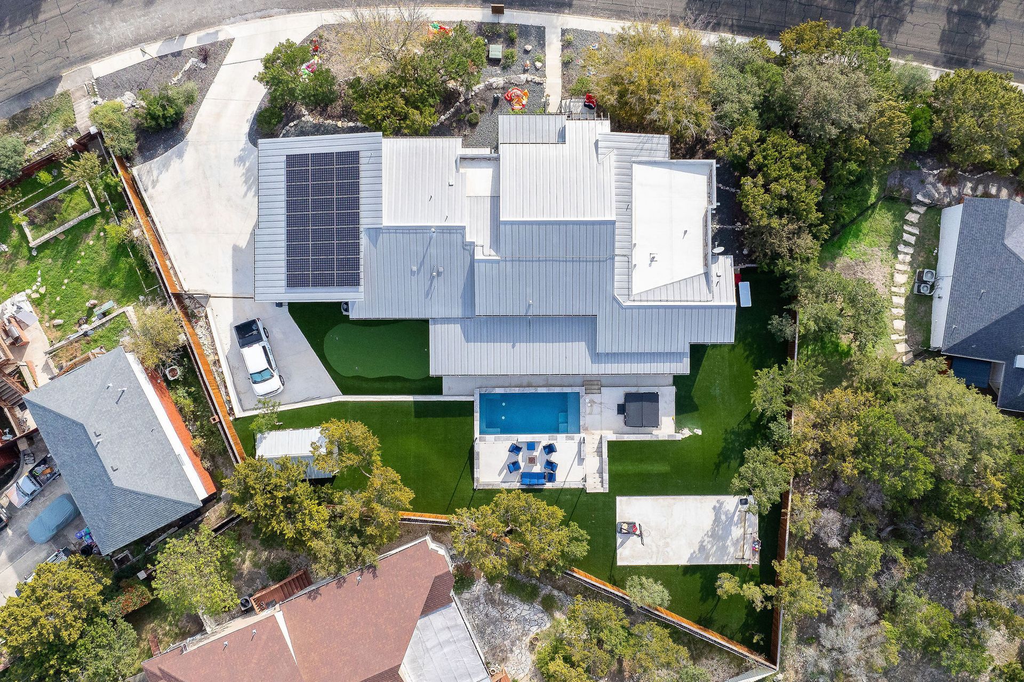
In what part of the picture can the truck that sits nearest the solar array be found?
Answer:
left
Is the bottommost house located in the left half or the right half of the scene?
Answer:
left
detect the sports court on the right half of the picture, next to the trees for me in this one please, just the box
[617,496,758,566]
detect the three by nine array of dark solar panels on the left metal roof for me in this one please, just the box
[286,152,360,289]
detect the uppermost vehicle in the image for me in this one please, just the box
[232,315,286,400]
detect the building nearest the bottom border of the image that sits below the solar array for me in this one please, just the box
[141,530,492,682]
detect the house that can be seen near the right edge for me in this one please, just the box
[918,197,1024,413]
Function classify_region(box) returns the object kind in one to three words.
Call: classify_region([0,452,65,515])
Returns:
truck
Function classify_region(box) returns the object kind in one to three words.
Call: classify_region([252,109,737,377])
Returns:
house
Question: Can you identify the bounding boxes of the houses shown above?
[23,346,222,556]
[141,530,492,682]
[918,197,1024,413]
[252,109,737,377]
